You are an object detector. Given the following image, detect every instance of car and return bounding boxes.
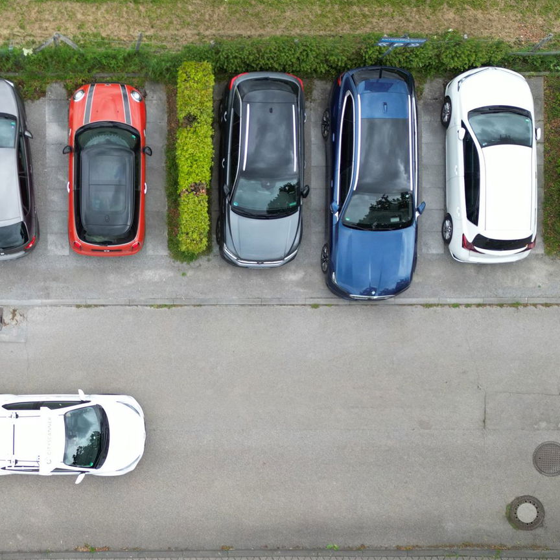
[217,74,316,269]
[443,67,548,264]
[323,70,430,300]
[0,387,146,484]
[60,83,155,258]
[0,77,42,261]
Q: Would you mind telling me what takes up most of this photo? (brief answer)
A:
paved ground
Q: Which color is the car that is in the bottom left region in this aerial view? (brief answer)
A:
white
